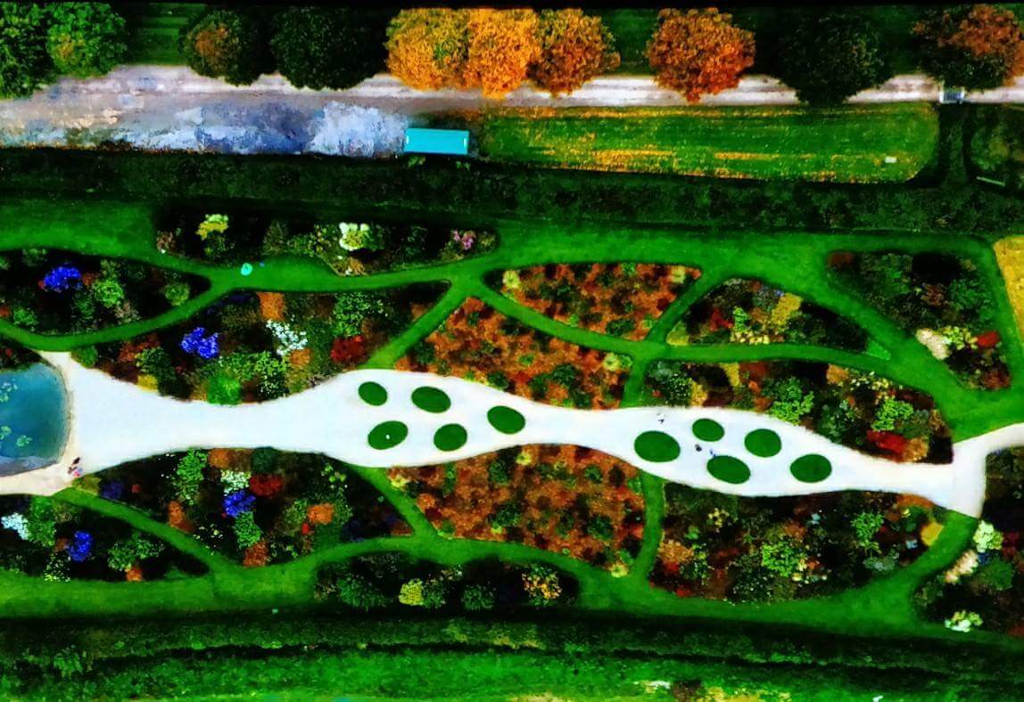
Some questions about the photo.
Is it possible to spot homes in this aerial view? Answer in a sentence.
No, there appears to be no home in this shot.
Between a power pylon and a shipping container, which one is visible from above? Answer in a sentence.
Visible in the photo is a shipping container.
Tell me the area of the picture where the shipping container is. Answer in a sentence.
The shipping container is located in the top region of the scene.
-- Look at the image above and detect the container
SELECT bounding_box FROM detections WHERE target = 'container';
[403,126,471,159]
